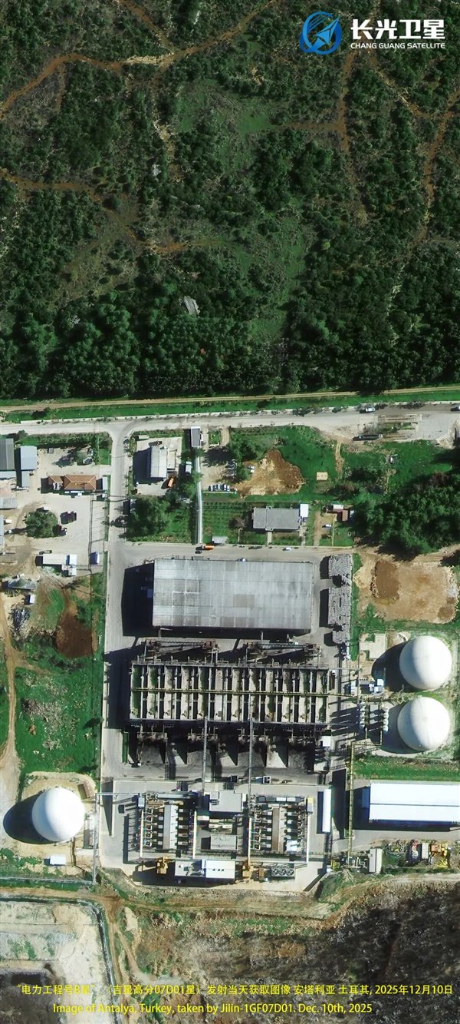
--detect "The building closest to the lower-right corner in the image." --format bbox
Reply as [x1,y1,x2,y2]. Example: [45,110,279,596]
[369,848,382,873]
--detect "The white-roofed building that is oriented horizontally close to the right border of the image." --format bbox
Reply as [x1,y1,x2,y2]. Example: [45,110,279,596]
[362,782,460,821]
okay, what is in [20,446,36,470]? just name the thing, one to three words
shed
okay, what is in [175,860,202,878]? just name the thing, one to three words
house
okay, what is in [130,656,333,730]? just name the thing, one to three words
building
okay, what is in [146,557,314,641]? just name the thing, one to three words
building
